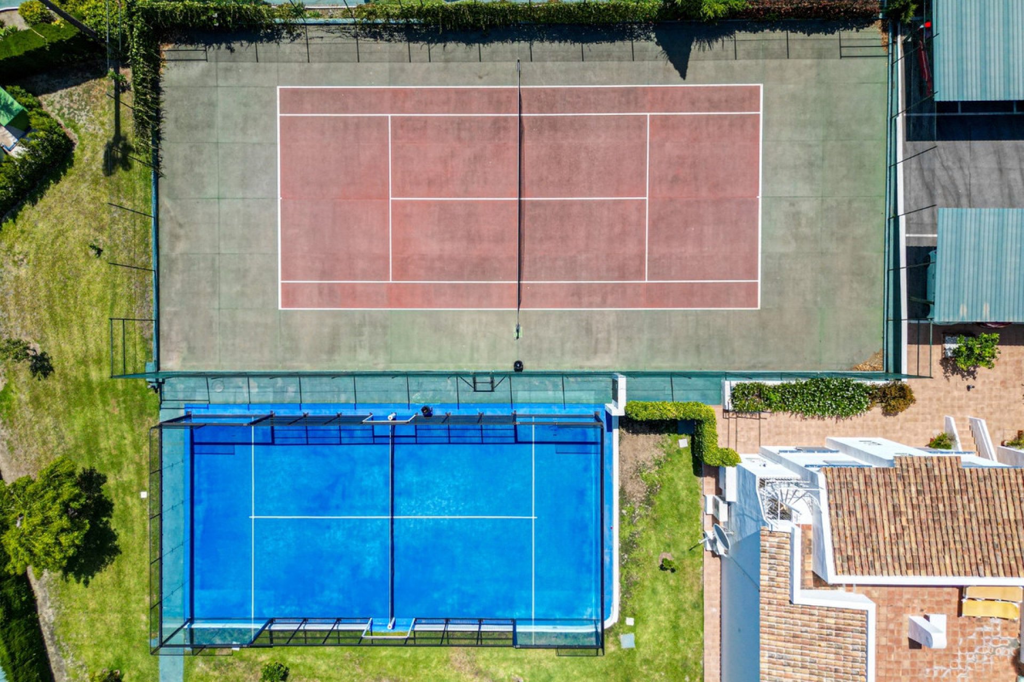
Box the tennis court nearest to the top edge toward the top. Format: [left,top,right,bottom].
[155,22,888,370]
